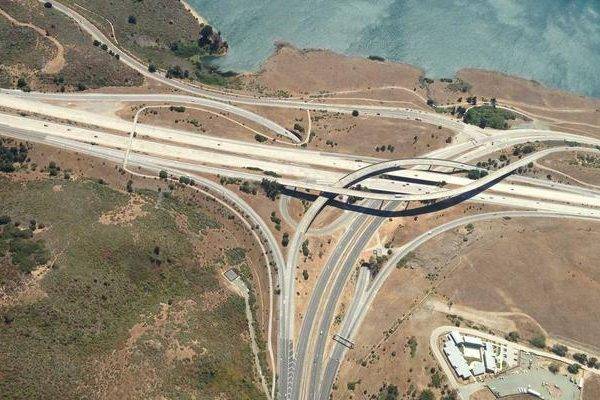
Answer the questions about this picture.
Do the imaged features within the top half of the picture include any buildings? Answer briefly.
No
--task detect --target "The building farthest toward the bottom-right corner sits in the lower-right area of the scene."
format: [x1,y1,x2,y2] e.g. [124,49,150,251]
[443,330,499,380]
